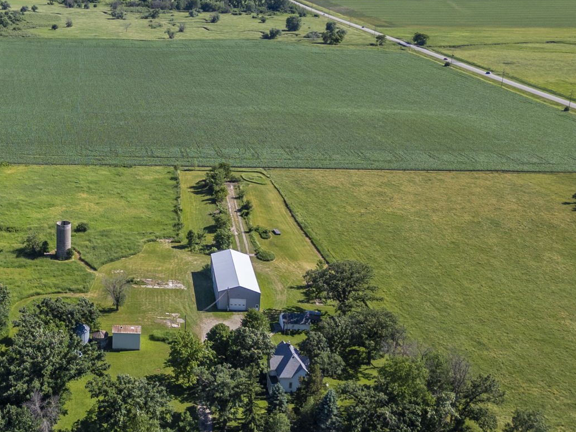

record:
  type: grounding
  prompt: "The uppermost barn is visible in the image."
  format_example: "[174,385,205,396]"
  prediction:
[208,248,262,309]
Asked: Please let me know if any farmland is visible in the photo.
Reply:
Yes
